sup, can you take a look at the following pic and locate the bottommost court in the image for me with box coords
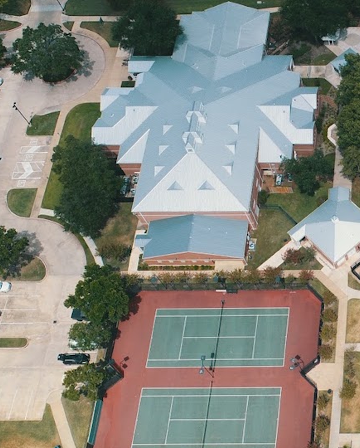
[90,377,315,448]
